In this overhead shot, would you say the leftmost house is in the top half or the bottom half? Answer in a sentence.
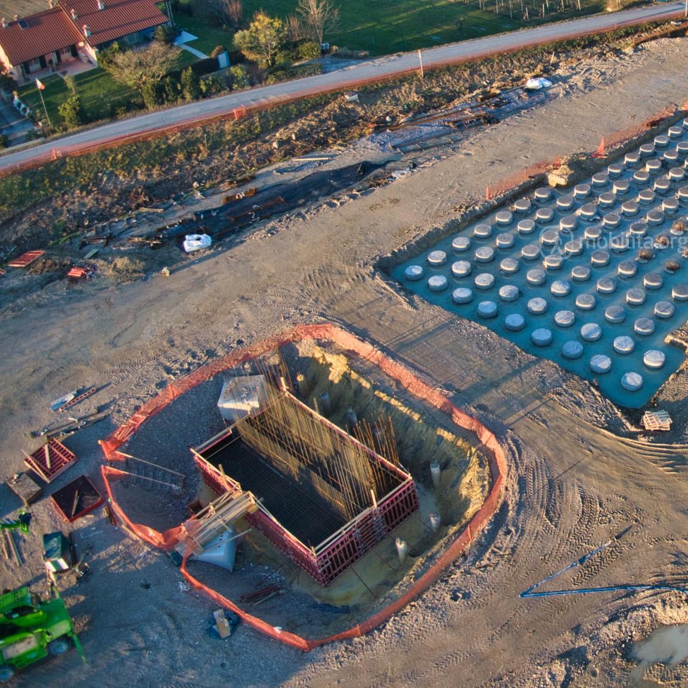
The top half of the photo is where the leftmost house is.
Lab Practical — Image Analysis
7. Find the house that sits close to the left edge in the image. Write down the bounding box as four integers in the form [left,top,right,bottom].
[0,0,178,99]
